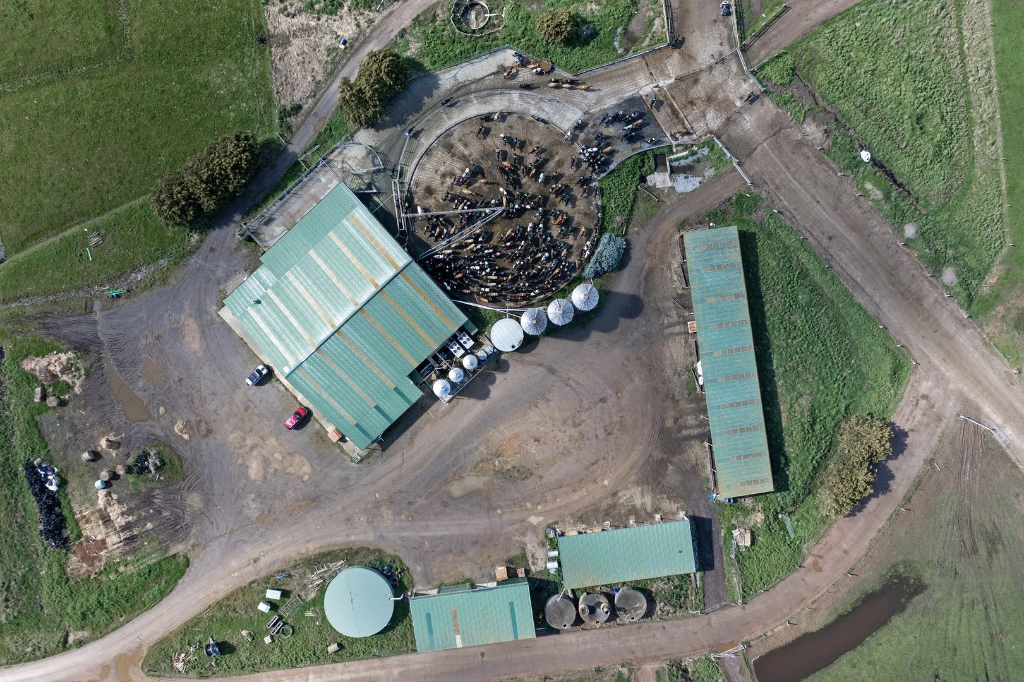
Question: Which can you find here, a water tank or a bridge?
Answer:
water tank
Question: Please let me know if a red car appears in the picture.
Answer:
Yes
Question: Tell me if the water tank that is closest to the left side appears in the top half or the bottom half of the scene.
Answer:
bottom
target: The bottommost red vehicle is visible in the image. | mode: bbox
[282,406,309,431]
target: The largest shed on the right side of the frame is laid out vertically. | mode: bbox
[677,226,774,499]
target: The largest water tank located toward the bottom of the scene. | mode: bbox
[324,562,405,637]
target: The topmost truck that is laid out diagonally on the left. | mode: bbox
[242,363,272,388]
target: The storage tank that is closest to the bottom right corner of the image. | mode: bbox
[613,585,647,621]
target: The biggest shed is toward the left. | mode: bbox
[223,155,468,450]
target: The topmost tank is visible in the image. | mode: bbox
[463,0,499,30]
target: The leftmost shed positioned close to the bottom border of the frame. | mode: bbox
[409,573,536,654]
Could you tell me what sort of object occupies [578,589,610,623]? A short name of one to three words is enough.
storage tank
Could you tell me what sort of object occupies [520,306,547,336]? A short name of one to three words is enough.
silo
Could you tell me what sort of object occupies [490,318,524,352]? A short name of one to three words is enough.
storage tank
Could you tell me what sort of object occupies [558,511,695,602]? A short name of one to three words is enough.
shed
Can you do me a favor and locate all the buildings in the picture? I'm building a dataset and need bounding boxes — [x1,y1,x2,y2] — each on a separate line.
[223,155,468,450]
[558,511,695,602]
[677,226,774,499]
[409,573,536,654]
